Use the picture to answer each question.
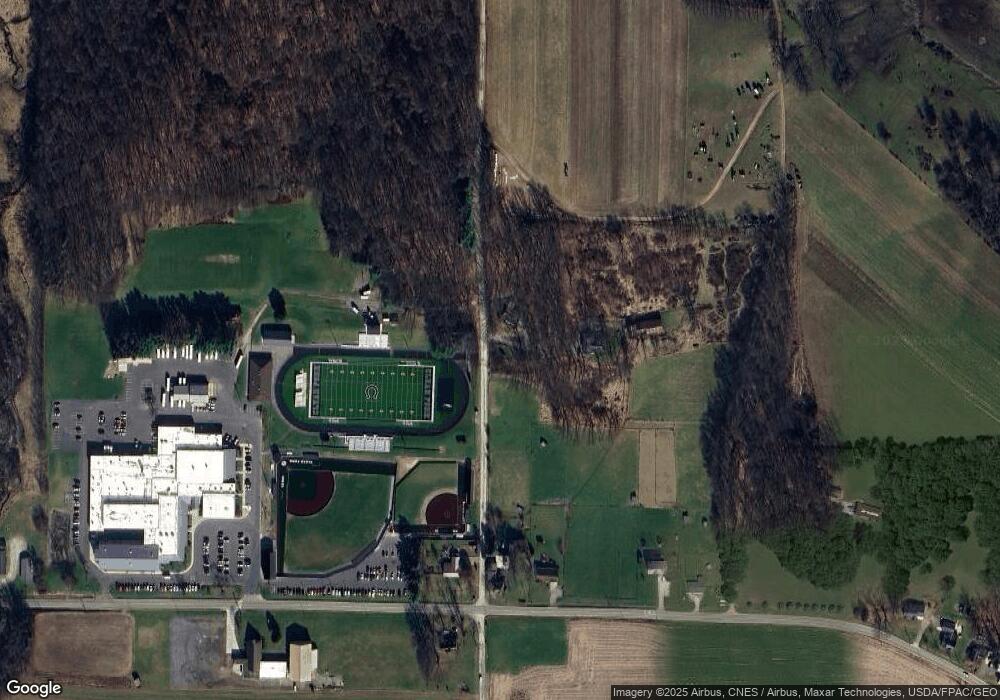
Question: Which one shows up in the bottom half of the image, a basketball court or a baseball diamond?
baseball diamond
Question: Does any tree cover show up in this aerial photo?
Yes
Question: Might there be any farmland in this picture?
Yes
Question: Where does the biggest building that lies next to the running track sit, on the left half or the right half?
left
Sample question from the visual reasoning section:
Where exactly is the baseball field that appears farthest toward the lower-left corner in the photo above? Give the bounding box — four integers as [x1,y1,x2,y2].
[277,457,396,578]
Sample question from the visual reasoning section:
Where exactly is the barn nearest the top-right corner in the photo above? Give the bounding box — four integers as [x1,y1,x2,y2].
[625,314,664,334]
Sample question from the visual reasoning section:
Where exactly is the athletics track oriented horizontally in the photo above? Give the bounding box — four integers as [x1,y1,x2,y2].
[269,342,470,437]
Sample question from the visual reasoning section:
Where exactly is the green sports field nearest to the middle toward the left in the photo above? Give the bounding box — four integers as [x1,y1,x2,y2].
[282,356,460,427]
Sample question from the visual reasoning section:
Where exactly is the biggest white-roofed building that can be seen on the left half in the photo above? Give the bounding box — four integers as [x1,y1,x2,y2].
[90,427,235,572]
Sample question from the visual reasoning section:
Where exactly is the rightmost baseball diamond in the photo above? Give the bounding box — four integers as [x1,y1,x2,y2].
[397,460,465,533]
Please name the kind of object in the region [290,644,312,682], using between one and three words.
barn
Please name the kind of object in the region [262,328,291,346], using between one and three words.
building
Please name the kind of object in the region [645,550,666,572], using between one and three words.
house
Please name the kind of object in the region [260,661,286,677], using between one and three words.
shed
